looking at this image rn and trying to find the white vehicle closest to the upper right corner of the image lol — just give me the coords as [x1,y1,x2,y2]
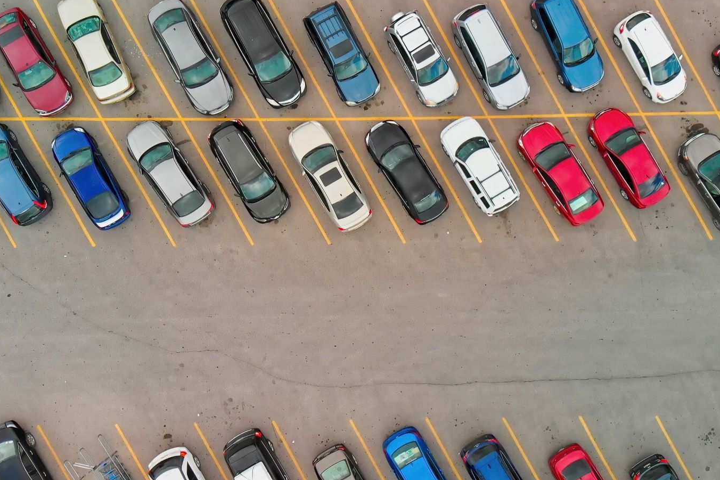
[613,11,688,104]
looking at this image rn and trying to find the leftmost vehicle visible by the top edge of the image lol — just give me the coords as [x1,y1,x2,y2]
[0,6,71,117]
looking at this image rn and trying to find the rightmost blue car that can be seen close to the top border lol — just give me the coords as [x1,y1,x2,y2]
[529,0,603,93]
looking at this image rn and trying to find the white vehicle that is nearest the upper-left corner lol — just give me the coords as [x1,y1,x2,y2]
[55,0,137,106]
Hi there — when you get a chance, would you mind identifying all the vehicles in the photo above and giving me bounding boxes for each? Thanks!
[302,0,380,107]
[149,446,203,480]
[224,427,287,480]
[520,123,607,228]
[366,122,451,225]
[613,11,688,104]
[313,444,366,480]
[439,116,524,219]
[547,443,601,480]
[218,0,306,110]
[205,118,290,224]
[289,124,374,232]
[52,129,133,230]
[627,452,679,480]
[451,4,530,109]
[55,0,137,106]
[0,6,71,117]
[0,421,54,480]
[678,134,720,227]
[383,425,446,480]
[589,108,674,209]
[146,0,234,116]
[125,121,214,228]
[459,432,520,480]
[529,0,603,93]
[0,126,54,227]
[384,9,460,108]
